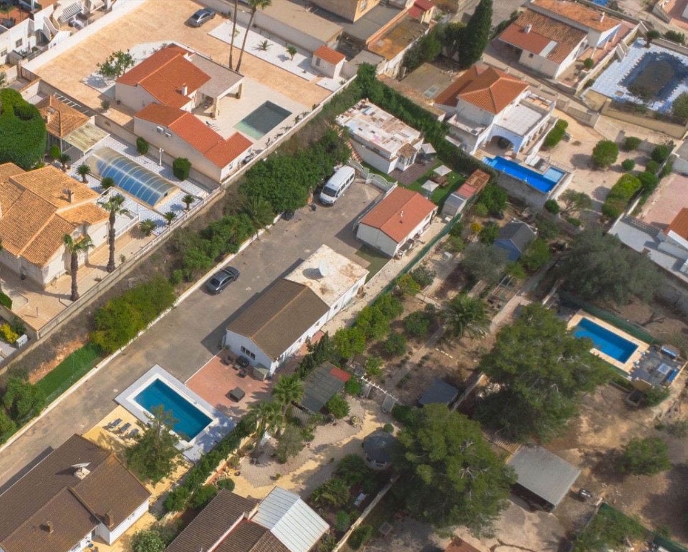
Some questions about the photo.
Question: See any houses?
Yes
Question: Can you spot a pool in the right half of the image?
Yes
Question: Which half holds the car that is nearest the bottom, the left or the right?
left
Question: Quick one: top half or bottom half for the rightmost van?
top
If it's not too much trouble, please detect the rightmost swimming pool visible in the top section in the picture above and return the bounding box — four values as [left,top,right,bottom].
[619,51,688,103]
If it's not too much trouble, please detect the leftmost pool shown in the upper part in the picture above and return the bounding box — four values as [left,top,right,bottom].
[85,147,177,210]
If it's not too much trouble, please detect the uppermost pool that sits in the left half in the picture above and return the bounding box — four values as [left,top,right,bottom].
[234,100,291,140]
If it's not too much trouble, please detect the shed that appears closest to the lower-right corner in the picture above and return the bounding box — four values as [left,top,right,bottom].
[505,444,581,520]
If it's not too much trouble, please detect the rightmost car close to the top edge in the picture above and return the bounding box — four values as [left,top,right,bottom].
[189,8,210,26]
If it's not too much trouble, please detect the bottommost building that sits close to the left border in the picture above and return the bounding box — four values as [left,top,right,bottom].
[0,434,152,552]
